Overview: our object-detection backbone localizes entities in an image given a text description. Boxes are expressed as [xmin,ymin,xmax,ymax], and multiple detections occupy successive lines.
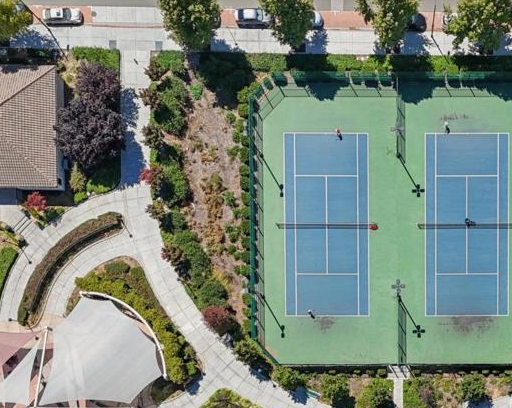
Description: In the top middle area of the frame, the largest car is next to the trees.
[235,9,270,29]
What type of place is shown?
sports ground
